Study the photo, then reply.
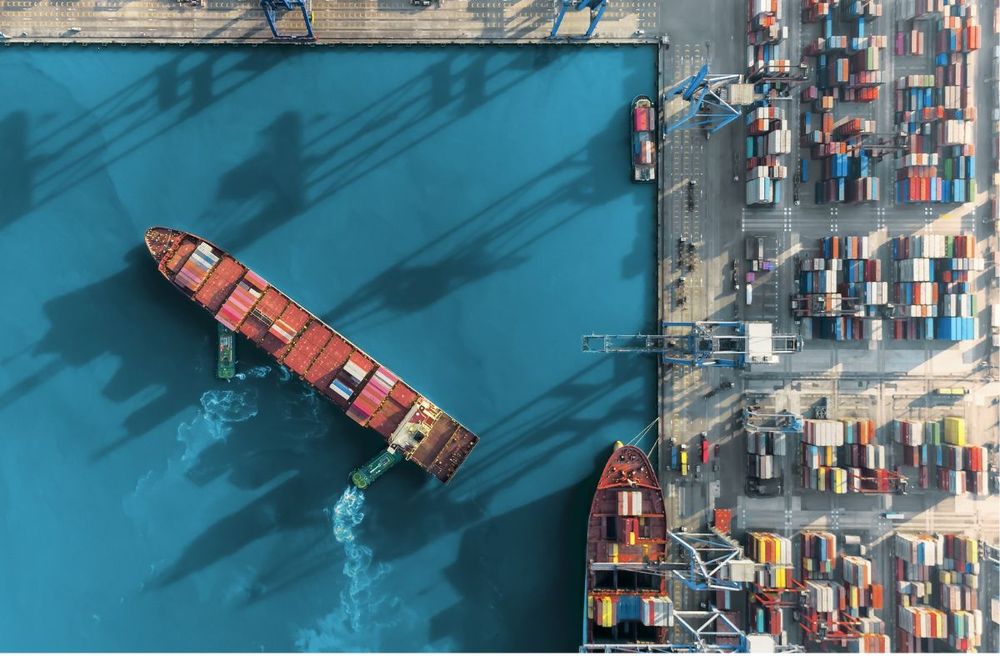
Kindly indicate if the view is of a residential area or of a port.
port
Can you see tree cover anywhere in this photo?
No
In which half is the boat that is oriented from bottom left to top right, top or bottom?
bottom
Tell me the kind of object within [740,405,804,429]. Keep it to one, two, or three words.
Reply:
container crane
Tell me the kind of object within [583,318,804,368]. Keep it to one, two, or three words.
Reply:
container crane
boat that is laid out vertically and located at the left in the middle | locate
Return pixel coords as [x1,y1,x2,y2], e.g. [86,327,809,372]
[216,322,236,380]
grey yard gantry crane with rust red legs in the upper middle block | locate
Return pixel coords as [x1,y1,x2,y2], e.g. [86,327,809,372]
[837,131,906,163]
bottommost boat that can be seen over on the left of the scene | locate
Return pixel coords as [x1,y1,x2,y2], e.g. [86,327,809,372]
[348,447,398,491]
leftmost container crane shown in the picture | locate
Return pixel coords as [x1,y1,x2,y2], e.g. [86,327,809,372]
[250,0,318,40]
